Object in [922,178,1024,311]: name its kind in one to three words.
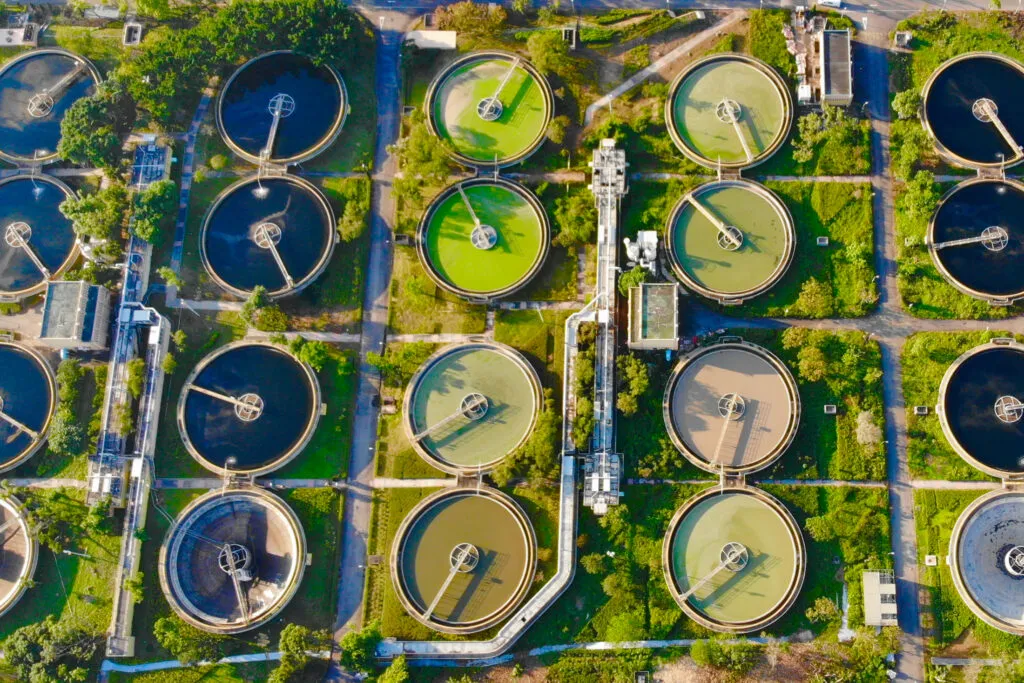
storage tank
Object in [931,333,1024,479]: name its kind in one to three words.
storage tank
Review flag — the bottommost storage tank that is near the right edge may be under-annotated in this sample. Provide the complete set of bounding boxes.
[942,489,1024,635]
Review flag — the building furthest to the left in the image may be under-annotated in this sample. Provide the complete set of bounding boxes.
[0,26,46,55]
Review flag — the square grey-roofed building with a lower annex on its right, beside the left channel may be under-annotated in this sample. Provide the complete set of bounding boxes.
[40,281,113,349]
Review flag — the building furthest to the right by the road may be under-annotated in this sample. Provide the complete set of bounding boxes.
[860,570,898,626]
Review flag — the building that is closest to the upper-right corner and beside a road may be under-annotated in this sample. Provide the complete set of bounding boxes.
[806,29,854,105]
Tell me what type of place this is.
industrial area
